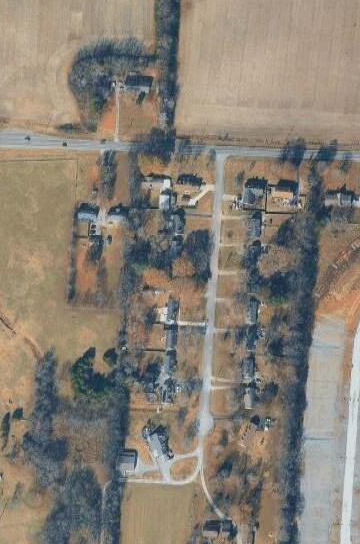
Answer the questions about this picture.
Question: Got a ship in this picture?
No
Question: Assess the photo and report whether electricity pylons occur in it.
No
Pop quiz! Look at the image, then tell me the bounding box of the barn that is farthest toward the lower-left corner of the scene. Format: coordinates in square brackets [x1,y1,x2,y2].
[118,449,136,472]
